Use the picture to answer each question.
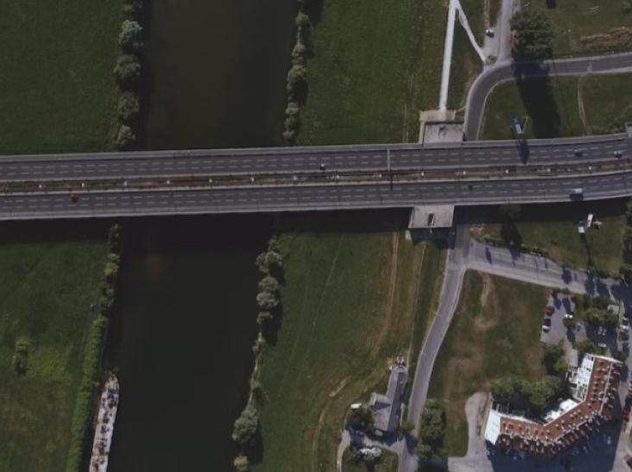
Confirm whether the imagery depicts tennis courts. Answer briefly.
No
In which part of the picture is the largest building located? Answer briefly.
bottom right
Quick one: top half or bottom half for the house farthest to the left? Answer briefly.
bottom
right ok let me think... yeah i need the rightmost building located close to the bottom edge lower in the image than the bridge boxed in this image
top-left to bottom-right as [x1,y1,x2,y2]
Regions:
[487,353,623,456]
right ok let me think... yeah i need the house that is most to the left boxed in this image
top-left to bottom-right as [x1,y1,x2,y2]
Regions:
[368,361,408,436]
